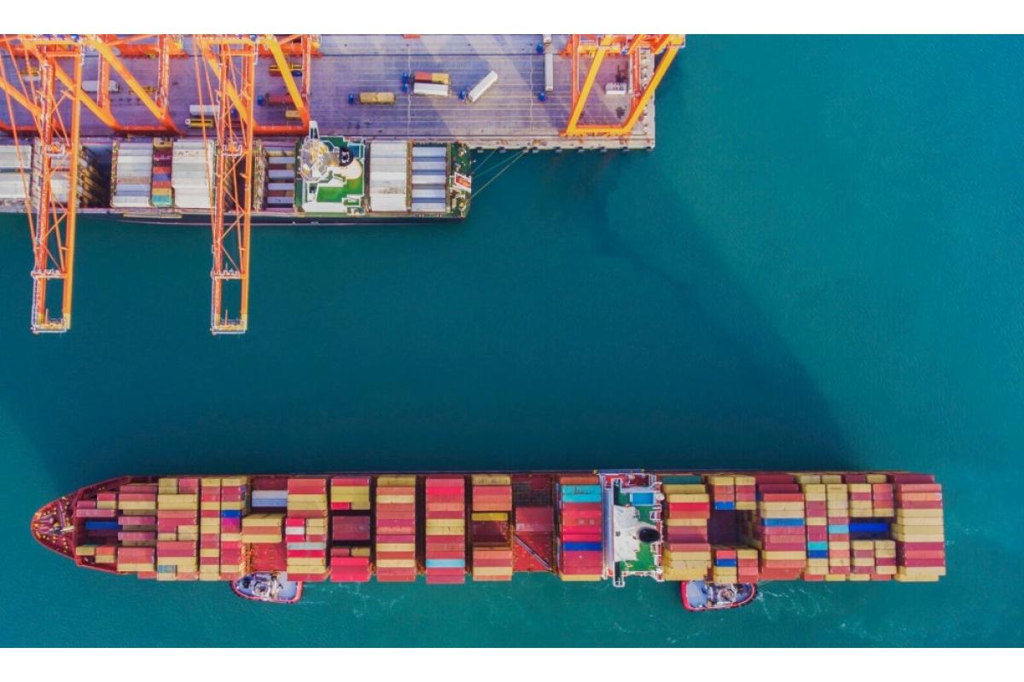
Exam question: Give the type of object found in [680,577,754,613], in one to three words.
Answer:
boat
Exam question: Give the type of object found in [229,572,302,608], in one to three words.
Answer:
boat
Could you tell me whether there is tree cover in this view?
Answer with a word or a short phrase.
No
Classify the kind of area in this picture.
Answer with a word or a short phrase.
port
